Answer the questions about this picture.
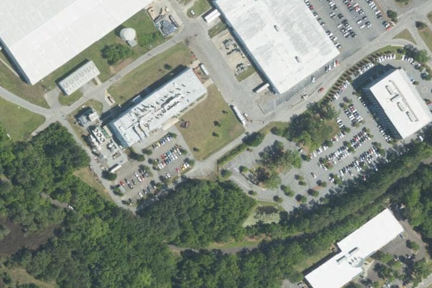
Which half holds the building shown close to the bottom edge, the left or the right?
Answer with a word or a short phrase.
right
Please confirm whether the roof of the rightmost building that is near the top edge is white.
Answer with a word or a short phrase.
Yes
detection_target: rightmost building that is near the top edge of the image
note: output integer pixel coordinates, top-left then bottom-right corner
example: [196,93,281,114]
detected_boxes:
[213,0,339,93]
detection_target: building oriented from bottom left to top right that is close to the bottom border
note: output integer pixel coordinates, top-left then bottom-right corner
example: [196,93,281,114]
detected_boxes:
[306,208,403,288]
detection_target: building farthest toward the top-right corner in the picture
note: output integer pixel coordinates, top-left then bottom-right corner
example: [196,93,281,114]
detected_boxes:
[368,68,432,139]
